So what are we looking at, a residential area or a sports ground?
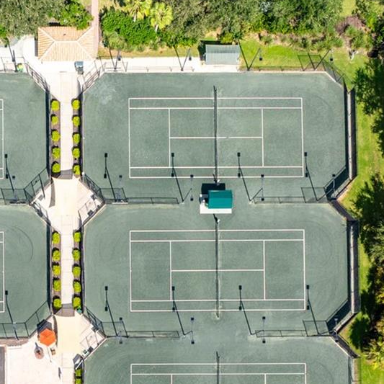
sports ground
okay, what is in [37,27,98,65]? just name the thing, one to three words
building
